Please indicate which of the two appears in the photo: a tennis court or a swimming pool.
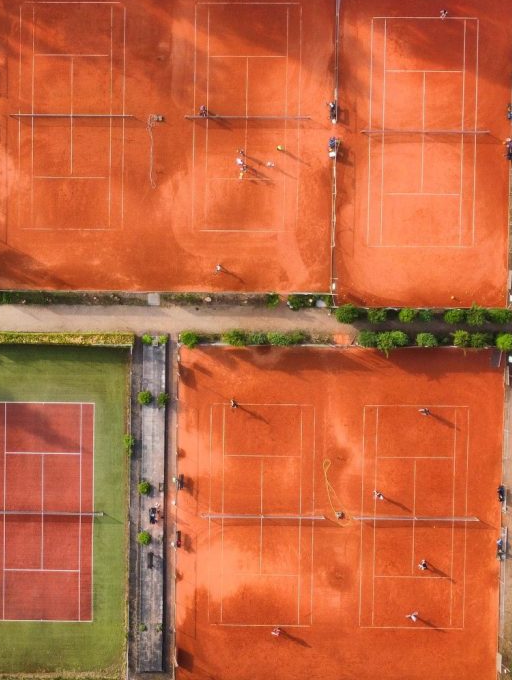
tennis court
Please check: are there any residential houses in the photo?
No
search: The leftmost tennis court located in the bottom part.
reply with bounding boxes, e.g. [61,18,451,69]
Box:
[0,343,130,679]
